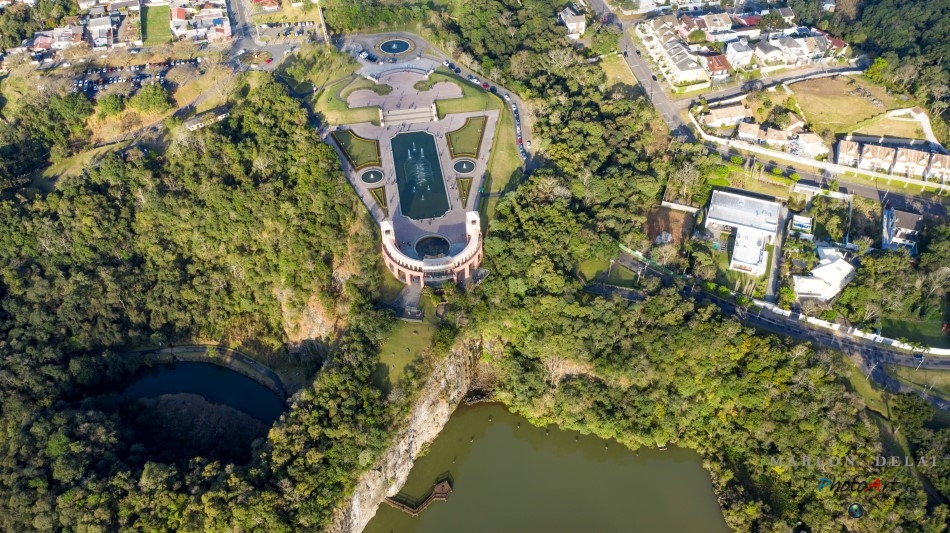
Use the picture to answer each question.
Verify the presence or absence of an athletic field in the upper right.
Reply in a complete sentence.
No, no athletic field is visible in the upper right.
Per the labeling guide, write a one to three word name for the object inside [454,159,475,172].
fountain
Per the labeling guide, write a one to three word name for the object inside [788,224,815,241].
shed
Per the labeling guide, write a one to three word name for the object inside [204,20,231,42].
house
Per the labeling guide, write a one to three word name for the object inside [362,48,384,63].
vehicle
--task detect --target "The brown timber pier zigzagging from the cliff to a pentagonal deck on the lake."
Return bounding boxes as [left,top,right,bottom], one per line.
[385,479,452,520]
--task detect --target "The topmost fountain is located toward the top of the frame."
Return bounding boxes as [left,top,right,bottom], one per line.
[375,35,417,57]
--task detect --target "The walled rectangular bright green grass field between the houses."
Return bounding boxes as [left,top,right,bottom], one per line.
[142,4,173,45]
